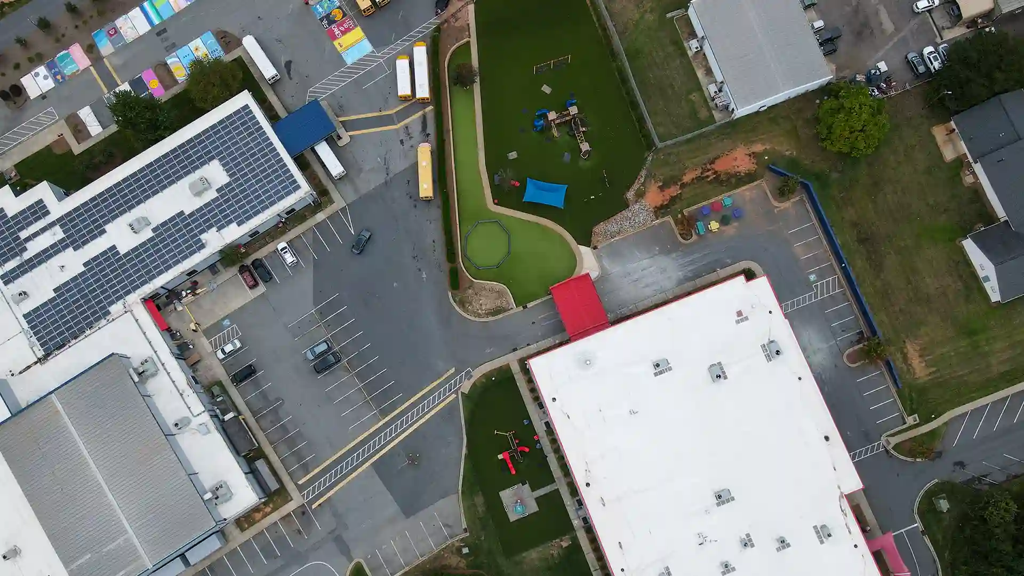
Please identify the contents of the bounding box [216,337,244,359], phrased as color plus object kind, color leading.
white car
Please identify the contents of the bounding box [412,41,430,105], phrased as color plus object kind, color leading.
white vehicle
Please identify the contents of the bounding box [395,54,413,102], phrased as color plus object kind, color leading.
white vehicle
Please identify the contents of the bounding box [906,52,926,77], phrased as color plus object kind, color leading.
gray car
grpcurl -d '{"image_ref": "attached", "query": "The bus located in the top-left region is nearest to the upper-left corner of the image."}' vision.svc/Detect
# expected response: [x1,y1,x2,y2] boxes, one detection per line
[240,33,283,87]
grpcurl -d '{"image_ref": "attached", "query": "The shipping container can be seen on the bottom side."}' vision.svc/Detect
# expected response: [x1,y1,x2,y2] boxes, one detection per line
[255,458,283,491]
